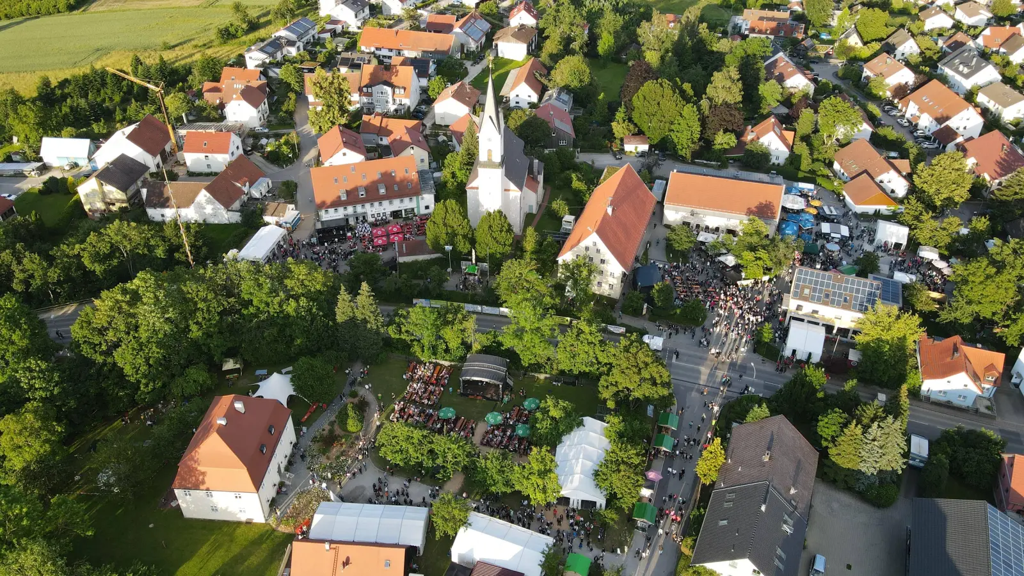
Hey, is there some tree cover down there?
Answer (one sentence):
Yes, tree cover can be seen from above here.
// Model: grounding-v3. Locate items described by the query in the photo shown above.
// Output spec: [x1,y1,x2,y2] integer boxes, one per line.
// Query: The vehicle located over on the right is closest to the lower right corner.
[908,430,935,471]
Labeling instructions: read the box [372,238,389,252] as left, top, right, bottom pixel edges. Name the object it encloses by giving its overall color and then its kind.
red umbrella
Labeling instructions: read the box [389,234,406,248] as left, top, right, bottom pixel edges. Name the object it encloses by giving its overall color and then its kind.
red umbrella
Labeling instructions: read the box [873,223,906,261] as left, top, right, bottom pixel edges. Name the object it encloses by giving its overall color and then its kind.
white tent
